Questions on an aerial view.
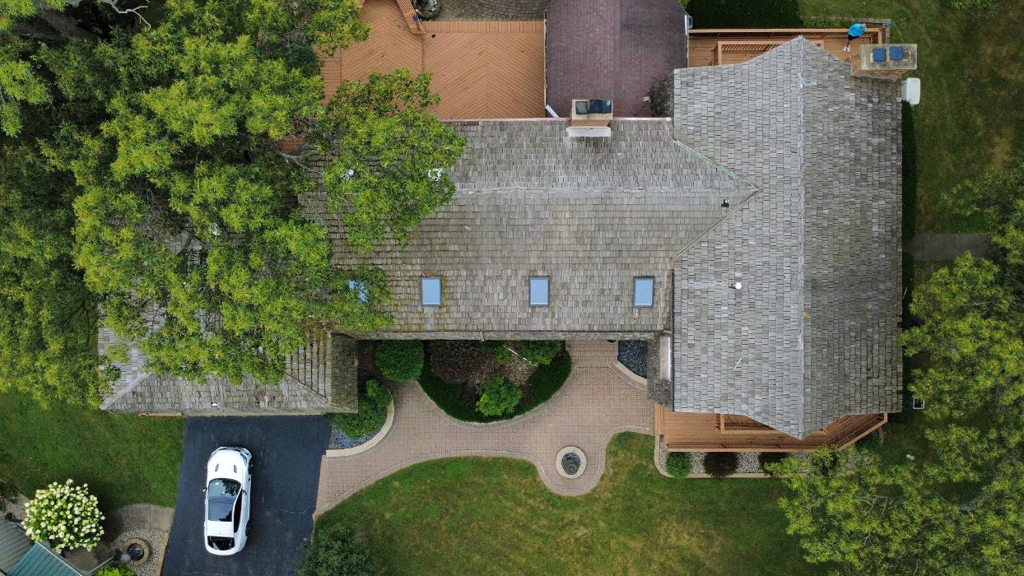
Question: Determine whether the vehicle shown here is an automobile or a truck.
automobile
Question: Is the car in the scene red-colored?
No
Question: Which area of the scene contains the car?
bottom left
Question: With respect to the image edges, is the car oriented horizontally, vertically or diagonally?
vertically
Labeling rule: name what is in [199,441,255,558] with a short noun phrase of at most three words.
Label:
car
